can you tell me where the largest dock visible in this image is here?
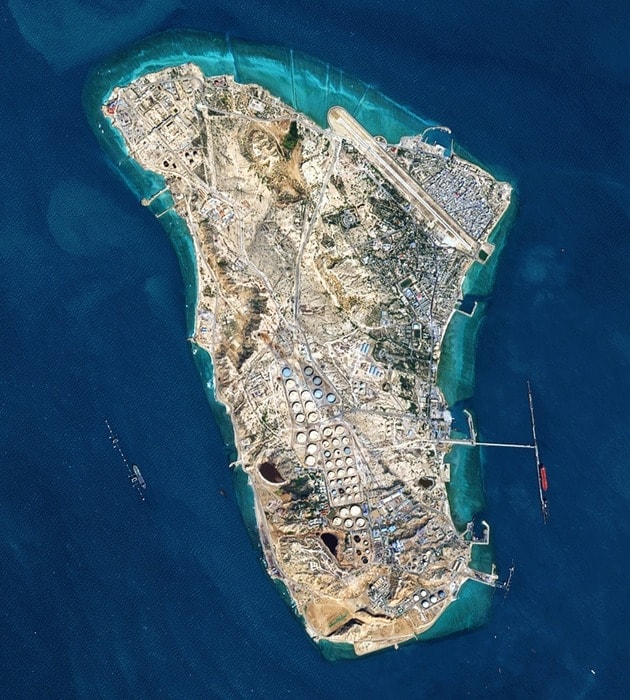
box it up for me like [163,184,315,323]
[449,381,547,522]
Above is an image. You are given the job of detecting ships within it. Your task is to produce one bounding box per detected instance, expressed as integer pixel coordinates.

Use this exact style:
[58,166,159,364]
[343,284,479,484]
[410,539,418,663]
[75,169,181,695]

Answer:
[541,466,547,491]
[133,465,146,489]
